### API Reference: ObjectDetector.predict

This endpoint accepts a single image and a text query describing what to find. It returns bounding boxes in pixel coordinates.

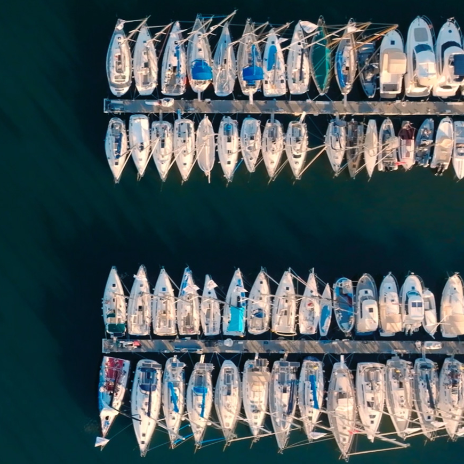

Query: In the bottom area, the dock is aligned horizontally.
[102,338,464,354]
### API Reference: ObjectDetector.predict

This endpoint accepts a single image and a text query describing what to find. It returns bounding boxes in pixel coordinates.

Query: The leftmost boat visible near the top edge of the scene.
[105,14,148,99]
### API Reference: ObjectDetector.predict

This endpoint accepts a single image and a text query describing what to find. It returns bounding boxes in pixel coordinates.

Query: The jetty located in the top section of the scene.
[103,99,464,115]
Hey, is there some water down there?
Yes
